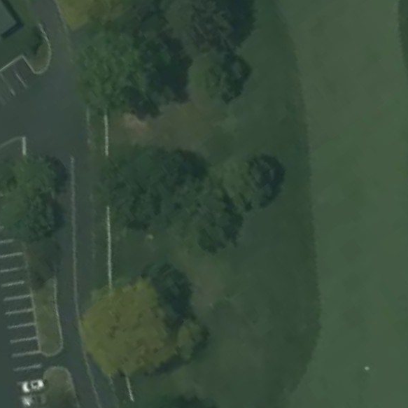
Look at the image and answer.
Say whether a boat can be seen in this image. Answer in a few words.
No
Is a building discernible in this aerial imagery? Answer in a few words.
No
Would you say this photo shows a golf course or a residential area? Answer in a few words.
golf course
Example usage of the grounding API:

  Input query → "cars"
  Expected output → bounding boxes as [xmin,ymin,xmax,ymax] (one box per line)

[20,378,44,392]
[21,394,45,407]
